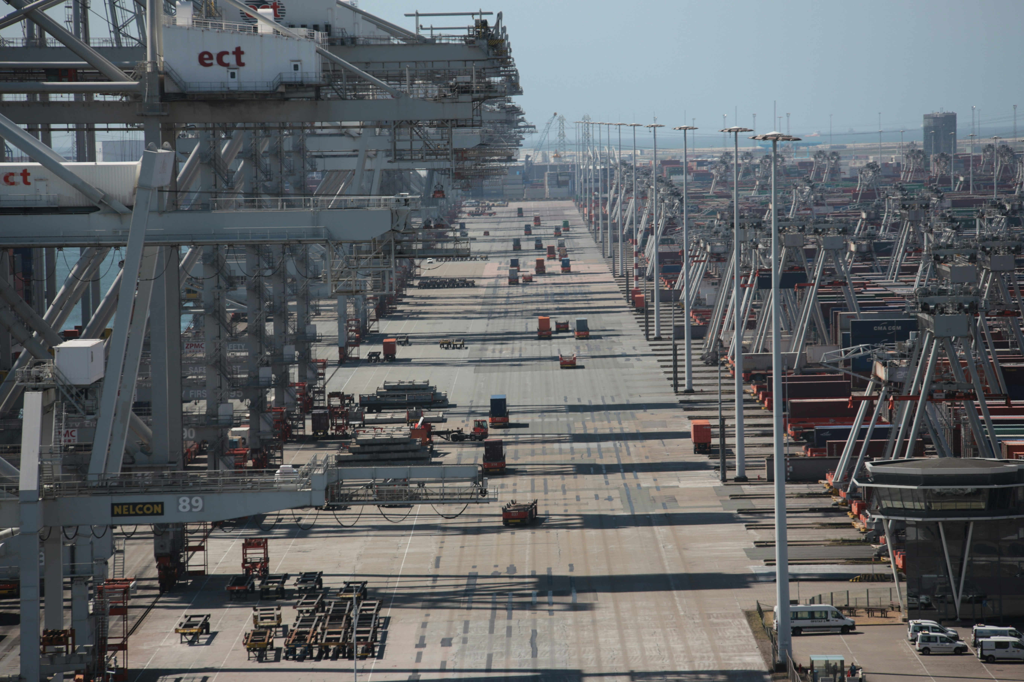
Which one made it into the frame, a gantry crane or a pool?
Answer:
gantry crane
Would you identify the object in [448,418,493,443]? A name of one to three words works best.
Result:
work vehicle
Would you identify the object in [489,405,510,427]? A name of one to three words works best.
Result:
vehicle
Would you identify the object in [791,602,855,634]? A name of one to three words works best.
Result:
van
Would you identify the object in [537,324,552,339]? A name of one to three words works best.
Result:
vehicle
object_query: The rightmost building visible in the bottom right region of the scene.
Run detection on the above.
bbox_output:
[859,455,1024,621]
